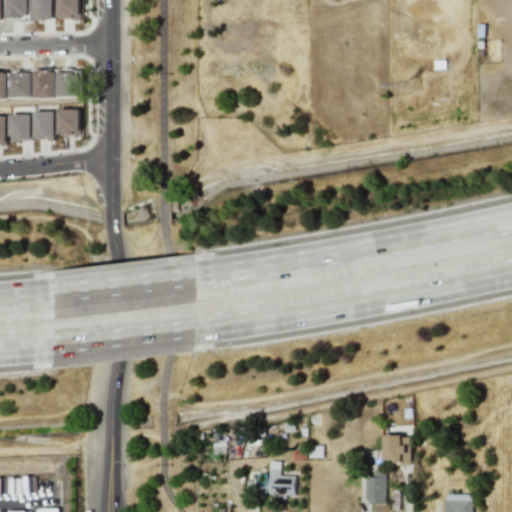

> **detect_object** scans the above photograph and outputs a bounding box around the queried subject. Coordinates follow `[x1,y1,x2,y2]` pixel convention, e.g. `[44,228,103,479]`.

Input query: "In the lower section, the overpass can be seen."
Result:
[48,250,202,370]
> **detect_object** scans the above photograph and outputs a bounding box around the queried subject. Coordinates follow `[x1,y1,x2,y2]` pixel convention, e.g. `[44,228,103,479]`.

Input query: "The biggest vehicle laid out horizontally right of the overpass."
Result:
[386,298,430,312]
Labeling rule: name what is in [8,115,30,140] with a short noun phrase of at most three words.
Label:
house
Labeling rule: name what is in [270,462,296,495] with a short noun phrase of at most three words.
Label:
house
